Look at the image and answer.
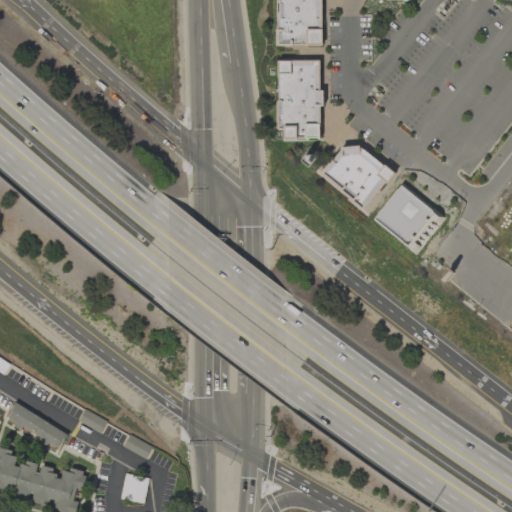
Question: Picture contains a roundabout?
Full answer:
No, there is no roundabout in the image.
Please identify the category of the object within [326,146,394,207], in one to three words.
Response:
building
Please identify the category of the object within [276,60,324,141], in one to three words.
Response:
building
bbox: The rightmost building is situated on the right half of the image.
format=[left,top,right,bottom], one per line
[374,186,446,254]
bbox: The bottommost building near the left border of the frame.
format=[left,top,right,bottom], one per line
[0,446,86,512]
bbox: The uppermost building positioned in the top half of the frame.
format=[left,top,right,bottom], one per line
[276,0,323,47]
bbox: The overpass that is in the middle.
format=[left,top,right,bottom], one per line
[154,185,304,418]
